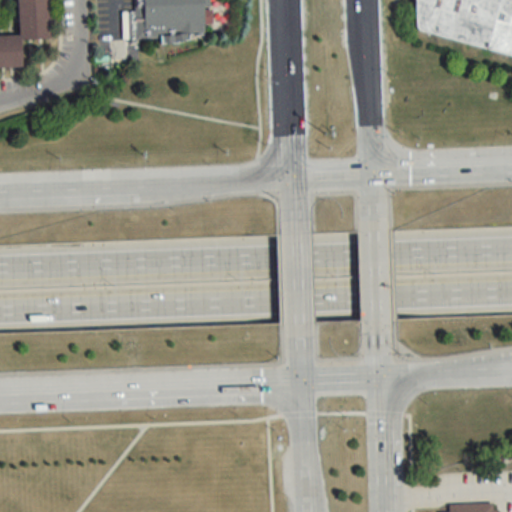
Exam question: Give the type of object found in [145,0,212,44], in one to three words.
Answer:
building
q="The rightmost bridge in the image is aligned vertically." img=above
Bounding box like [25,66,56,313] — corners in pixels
[358,228,397,324]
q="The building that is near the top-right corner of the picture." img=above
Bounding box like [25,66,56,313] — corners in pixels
[416,0,512,54]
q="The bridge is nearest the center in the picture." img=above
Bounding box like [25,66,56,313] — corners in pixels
[276,231,316,326]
